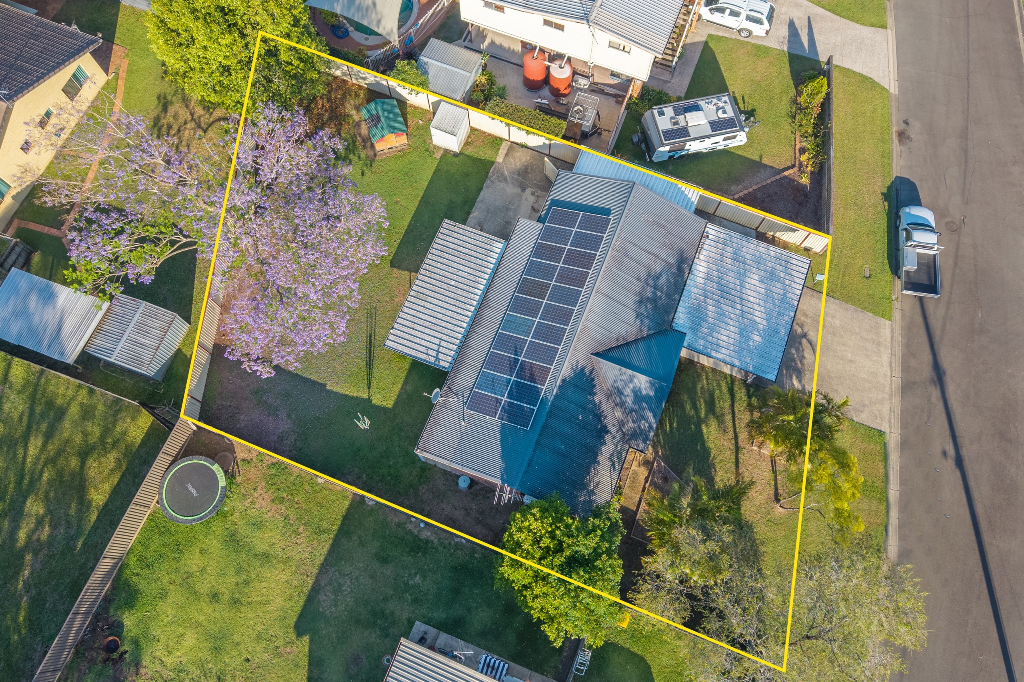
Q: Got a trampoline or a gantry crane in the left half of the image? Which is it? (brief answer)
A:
trampoline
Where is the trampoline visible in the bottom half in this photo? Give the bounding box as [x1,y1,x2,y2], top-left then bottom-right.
[158,456,229,524]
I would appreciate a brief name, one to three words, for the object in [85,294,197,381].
shed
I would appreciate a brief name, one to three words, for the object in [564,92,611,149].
trailer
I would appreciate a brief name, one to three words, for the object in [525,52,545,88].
water tank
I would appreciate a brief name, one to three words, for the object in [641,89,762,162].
camper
